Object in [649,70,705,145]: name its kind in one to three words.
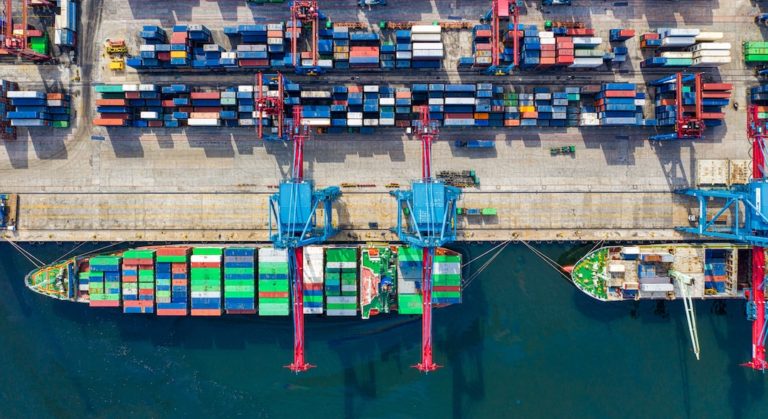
container crane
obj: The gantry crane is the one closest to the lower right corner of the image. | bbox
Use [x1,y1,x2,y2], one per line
[673,103,768,373]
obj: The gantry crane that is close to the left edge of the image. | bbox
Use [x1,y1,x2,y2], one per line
[2,0,62,61]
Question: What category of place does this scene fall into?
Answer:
port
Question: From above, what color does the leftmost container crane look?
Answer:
red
